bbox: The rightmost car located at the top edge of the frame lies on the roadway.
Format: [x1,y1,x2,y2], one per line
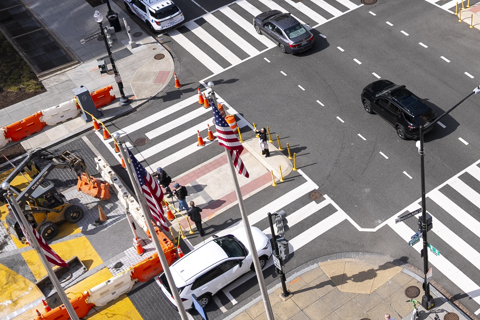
[248,8,315,56]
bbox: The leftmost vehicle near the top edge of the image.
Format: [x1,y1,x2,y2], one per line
[120,0,185,34]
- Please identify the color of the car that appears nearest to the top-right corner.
black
